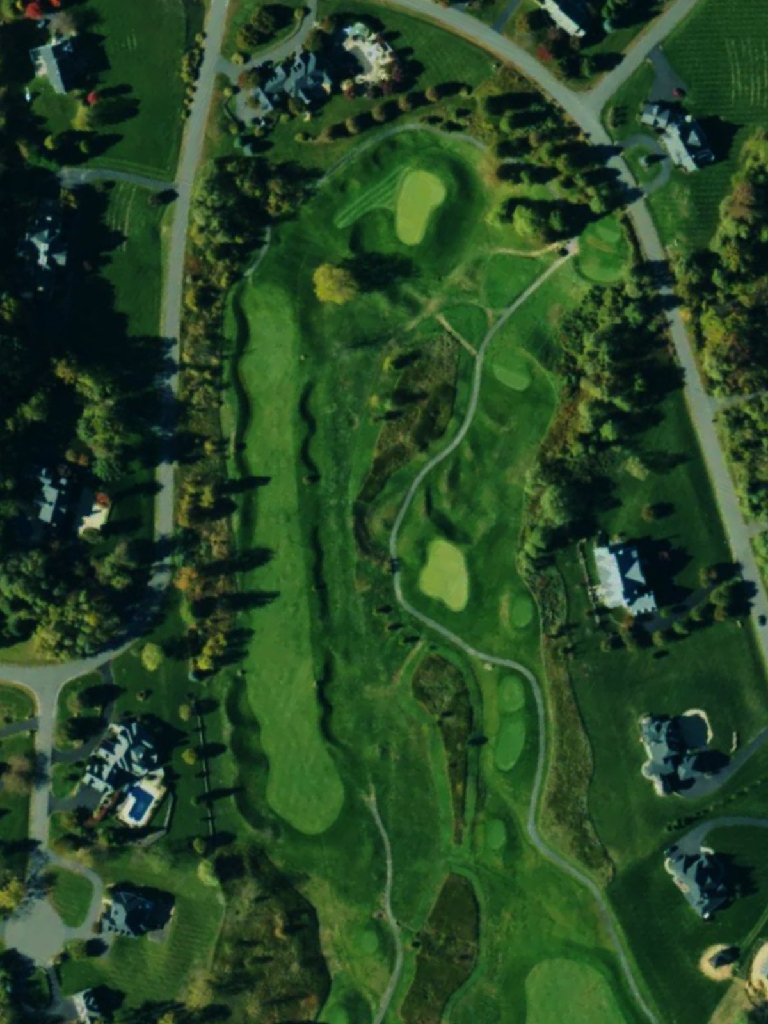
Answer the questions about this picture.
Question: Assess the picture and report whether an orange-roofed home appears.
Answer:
No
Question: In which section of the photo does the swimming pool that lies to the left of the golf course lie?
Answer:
bottom left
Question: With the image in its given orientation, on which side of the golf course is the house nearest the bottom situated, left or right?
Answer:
on the left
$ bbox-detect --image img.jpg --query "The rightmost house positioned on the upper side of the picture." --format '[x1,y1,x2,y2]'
[641,104,715,176]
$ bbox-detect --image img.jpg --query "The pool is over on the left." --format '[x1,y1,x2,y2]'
[128,785,154,822]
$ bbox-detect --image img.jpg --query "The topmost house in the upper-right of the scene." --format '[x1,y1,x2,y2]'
[542,0,590,36]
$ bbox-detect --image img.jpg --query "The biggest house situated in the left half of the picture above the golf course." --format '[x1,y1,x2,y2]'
[253,52,331,113]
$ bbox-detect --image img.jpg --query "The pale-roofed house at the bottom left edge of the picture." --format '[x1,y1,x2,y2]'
[74,991,103,1024]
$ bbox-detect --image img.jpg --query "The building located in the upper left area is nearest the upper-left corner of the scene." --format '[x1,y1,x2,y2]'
[30,37,76,97]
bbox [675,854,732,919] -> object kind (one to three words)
house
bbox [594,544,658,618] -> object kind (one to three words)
house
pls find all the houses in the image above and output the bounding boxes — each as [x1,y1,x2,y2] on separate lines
[102,890,161,938]
[594,544,658,618]
[82,724,155,793]
[30,37,76,97]
[542,0,590,36]
[36,472,70,526]
[641,716,705,797]
[253,52,331,113]
[675,854,732,919]
[74,991,103,1024]
[641,104,715,176]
